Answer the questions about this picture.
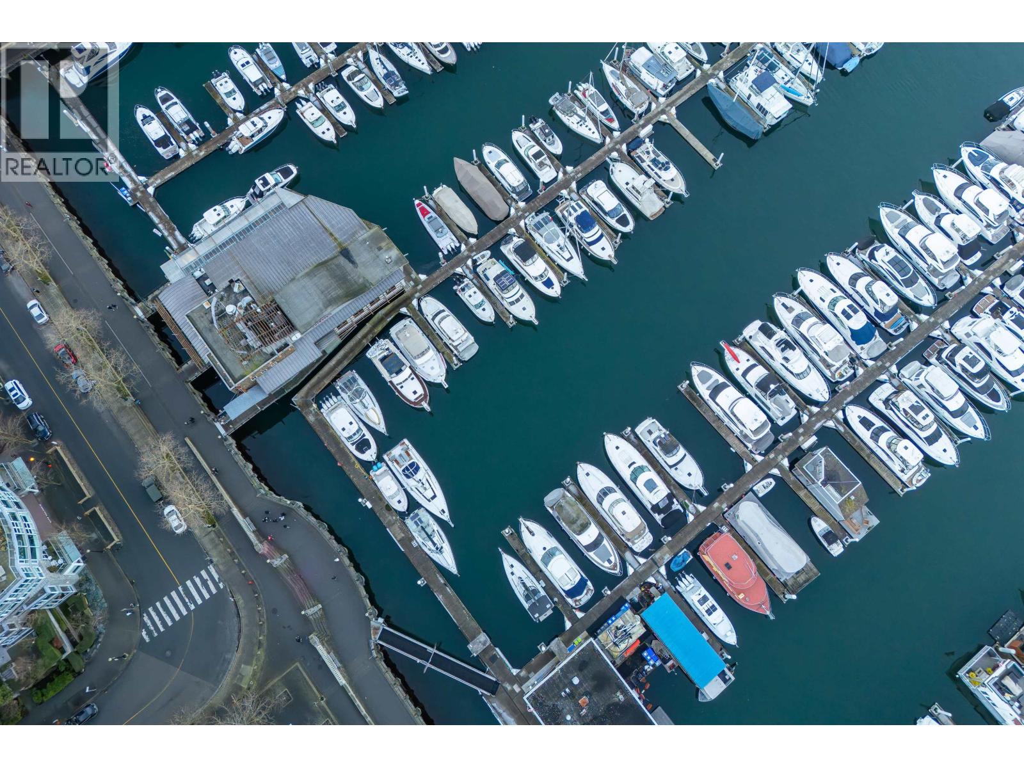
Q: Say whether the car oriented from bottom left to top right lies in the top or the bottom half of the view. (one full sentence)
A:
The car oriented from bottom left to top right is in the bottom half of the image.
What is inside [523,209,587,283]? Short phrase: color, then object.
white boat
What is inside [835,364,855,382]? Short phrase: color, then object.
white boat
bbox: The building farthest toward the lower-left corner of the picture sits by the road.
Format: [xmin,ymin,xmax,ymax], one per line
[0,457,89,663]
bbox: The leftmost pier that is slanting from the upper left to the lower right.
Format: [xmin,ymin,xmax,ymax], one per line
[44,59,192,254]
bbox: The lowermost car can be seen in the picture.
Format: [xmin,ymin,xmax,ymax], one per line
[66,702,97,727]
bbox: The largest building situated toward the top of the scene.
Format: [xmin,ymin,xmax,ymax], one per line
[145,187,422,426]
